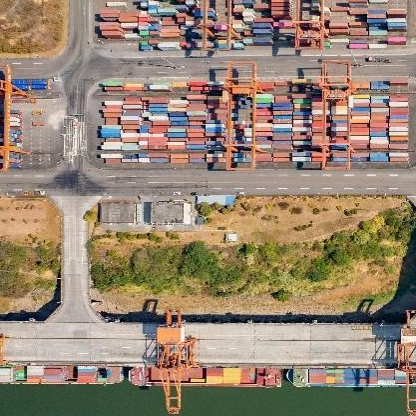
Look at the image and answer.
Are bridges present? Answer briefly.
Yes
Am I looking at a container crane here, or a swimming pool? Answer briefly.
container crane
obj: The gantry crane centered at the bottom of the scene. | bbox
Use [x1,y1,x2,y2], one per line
[157,308,205,416]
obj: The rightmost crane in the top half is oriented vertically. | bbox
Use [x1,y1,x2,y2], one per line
[318,60,358,172]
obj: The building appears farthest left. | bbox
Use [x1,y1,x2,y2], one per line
[99,202,136,223]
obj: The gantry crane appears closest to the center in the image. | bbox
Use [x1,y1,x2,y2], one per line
[222,61,269,172]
